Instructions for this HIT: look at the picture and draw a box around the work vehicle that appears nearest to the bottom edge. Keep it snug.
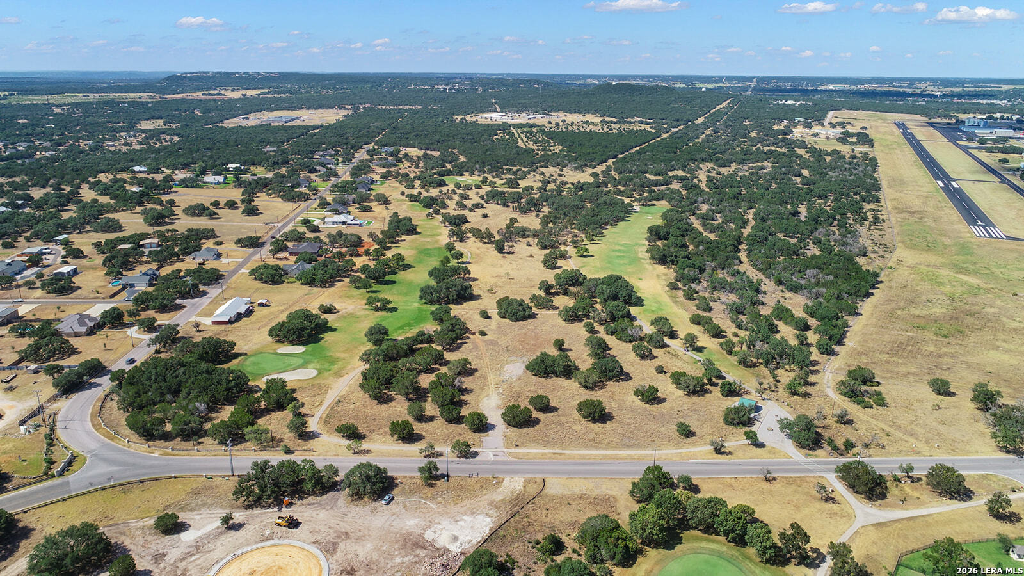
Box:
[277,513,303,529]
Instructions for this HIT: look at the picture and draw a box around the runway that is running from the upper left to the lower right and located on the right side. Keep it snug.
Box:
[895,122,1007,239]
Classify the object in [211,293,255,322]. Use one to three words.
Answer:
house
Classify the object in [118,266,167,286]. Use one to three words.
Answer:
house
